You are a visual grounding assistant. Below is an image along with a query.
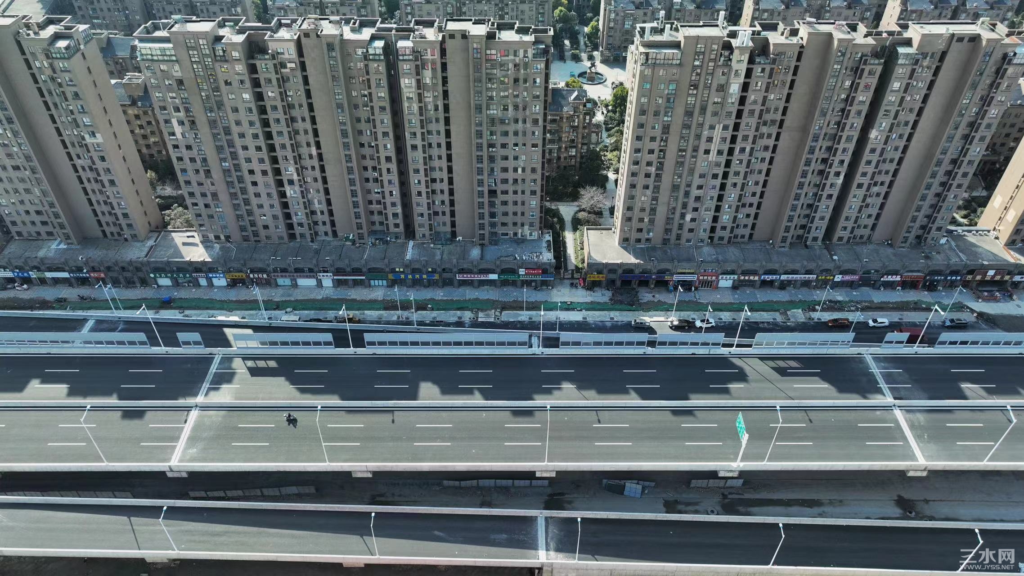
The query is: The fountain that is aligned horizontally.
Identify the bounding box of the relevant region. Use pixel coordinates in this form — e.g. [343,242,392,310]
[577,72,607,86]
